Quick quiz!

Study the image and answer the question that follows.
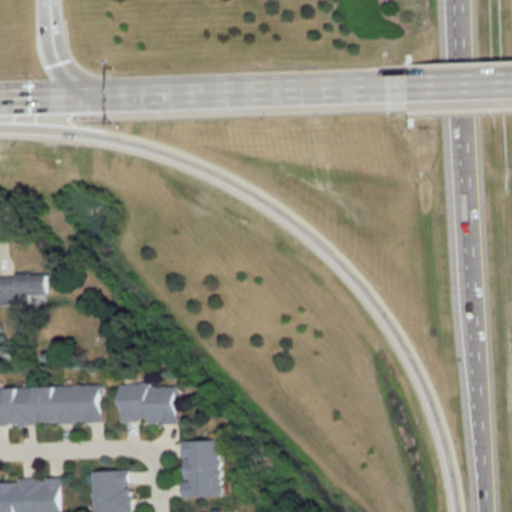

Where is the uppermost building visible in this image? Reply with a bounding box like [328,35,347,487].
[0,276,48,304]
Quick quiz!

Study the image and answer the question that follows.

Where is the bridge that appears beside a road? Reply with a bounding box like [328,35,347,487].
[385,60,512,116]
